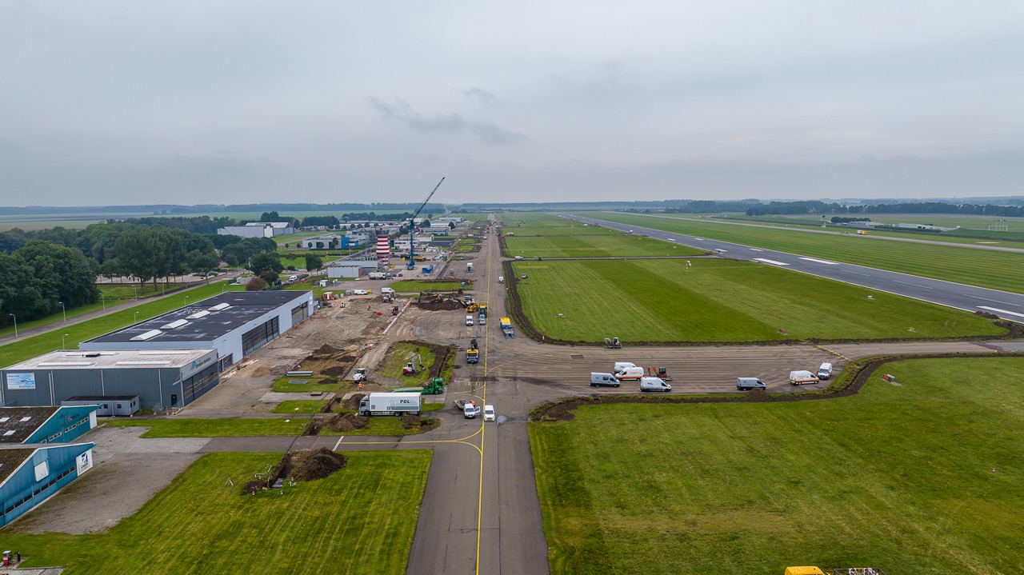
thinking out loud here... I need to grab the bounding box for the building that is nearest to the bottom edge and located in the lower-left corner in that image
[0,443,98,529]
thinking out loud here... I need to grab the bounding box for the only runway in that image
[550,212,1024,323]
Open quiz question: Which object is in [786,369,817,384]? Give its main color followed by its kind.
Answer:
white vehicle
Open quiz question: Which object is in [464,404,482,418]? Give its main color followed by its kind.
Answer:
white vehicle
